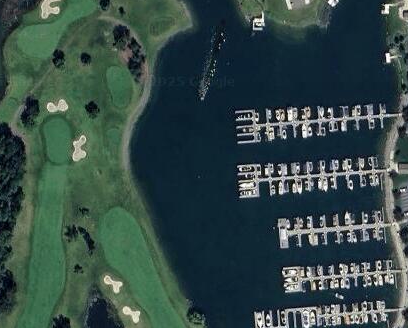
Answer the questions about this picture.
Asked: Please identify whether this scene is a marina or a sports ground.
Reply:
marina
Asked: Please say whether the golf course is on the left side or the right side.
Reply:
left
